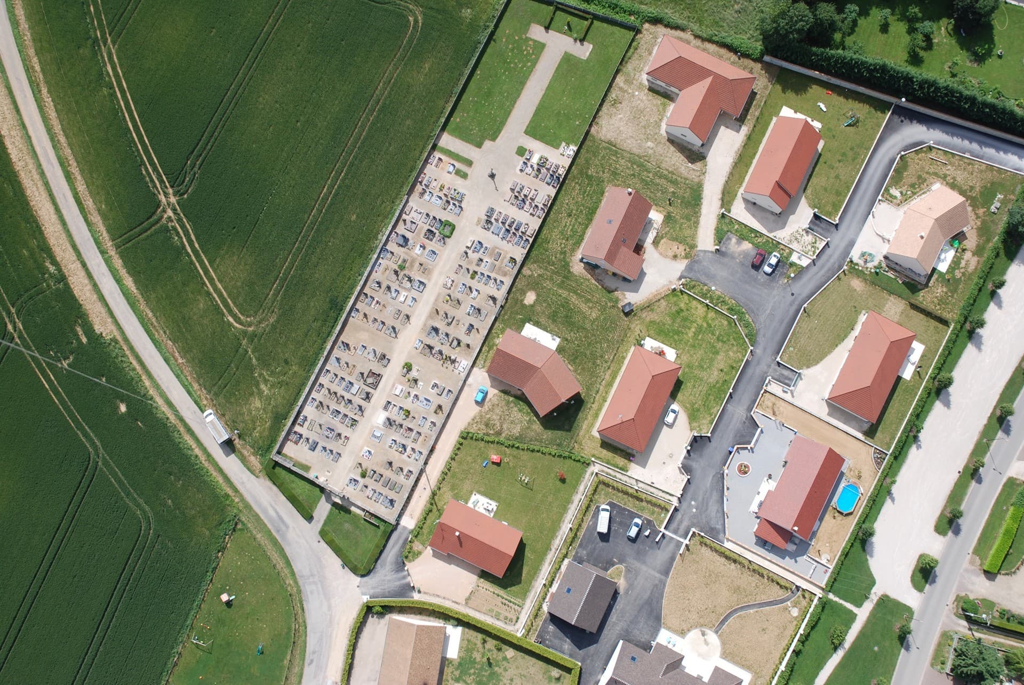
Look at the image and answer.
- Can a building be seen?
Yes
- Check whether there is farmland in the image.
Yes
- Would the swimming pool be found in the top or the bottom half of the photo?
bottom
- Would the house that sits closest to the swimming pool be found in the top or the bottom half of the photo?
bottom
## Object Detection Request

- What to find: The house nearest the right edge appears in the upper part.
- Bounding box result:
[883,185,970,274]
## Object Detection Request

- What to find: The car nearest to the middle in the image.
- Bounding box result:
[474,385,487,405]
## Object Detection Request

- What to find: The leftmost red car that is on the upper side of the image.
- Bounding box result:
[751,250,764,269]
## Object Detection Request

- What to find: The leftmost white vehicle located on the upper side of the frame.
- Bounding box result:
[763,251,780,274]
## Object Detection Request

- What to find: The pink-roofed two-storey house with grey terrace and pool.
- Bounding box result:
[753,435,846,550]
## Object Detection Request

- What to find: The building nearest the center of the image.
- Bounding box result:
[487,329,581,416]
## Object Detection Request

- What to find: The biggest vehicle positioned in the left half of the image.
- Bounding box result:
[204,409,230,445]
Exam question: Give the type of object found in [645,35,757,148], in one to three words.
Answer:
house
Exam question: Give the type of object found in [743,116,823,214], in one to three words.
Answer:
house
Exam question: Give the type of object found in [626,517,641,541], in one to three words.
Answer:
car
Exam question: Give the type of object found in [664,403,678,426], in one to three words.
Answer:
car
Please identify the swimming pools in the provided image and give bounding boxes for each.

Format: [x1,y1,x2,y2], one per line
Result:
[834,482,865,514]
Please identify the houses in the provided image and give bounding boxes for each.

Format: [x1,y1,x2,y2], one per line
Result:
[597,346,683,454]
[430,498,523,579]
[645,35,757,148]
[883,185,970,274]
[378,616,447,685]
[487,329,581,416]
[547,561,617,634]
[753,435,846,550]
[824,310,919,427]
[582,186,654,279]
[743,116,823,214]
[601,640,744,685]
